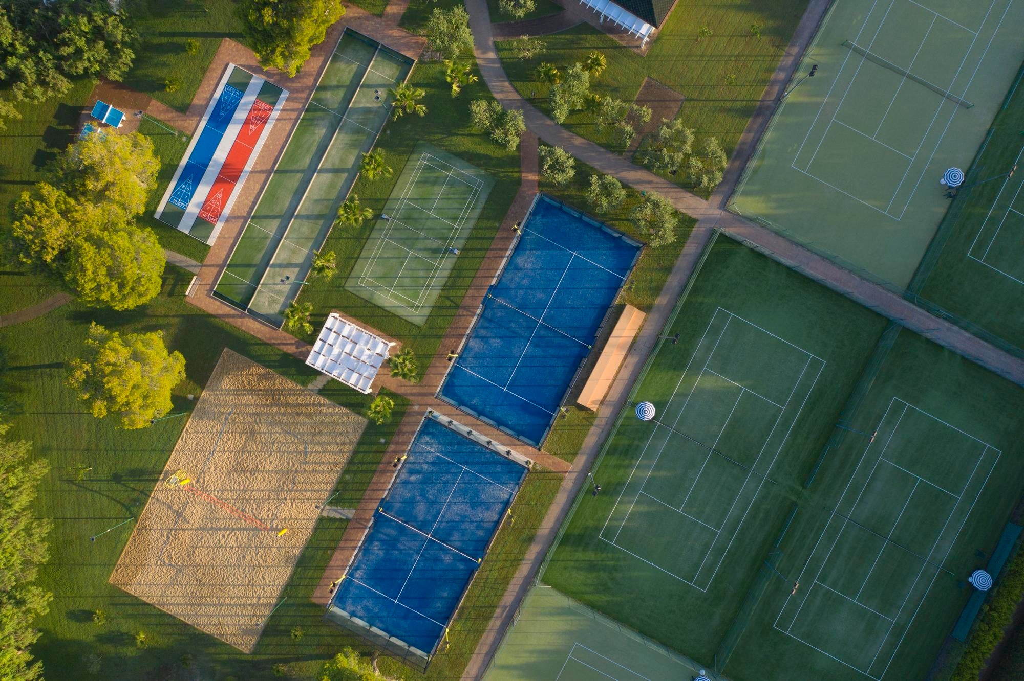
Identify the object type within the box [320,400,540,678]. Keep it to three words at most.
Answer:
sports court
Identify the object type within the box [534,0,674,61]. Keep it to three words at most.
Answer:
building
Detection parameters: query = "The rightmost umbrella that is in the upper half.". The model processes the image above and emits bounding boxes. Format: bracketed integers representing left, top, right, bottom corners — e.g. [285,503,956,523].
[937,167,963,188]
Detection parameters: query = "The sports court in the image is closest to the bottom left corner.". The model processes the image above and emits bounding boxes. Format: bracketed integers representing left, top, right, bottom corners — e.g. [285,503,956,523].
[108,348,368,655]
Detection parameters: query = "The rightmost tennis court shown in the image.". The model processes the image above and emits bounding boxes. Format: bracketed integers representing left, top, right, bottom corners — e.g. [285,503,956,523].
[907,80,1024,354]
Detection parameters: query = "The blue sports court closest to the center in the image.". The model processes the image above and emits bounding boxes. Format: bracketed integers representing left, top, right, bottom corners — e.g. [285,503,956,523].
[436,189,648,452]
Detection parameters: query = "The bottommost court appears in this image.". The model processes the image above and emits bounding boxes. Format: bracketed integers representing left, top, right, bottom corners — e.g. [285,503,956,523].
[484,585,731,681]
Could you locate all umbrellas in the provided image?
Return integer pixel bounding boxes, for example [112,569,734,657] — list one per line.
[962,569,989,590]
[937,167,963,188]
[635,401,655,421]
[693,669,712,681]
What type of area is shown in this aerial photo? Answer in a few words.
sports ground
